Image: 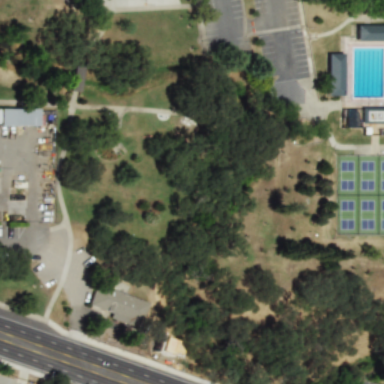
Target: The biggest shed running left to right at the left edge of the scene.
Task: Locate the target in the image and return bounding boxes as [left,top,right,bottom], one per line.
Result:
[4,109,44,126]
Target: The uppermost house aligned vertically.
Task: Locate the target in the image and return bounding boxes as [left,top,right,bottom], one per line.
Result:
[330,54,348,96]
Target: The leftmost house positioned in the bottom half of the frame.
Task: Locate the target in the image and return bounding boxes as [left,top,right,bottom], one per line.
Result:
[92,290,150,326]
